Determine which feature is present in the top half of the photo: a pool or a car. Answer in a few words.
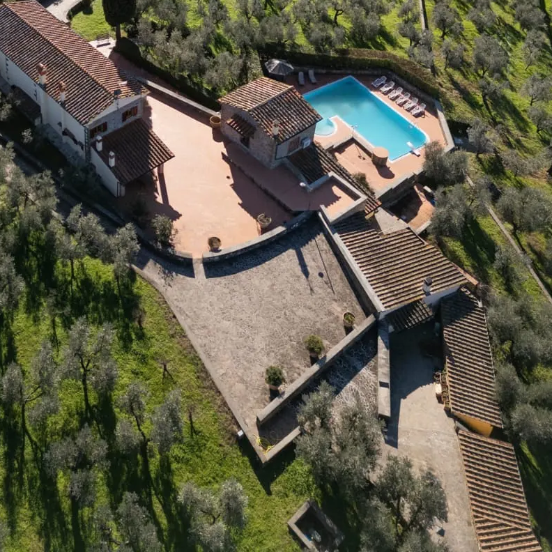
pool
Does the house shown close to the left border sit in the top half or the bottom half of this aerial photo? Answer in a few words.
top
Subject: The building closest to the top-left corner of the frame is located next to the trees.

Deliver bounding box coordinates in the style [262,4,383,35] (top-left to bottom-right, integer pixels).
[0,0,175,203]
